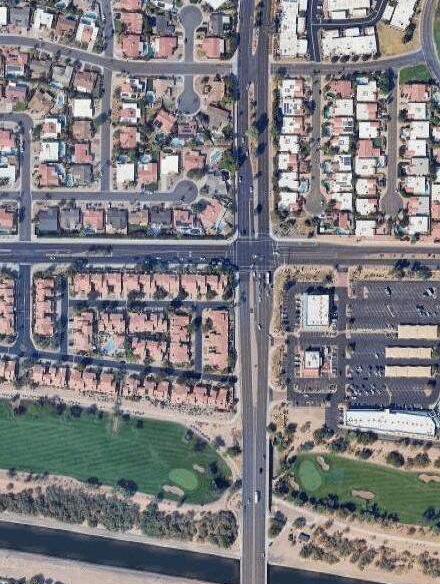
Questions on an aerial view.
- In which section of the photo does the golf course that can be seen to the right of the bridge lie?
bottom right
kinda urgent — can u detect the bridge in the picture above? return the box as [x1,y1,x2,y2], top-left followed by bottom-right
[241,391,268,584]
